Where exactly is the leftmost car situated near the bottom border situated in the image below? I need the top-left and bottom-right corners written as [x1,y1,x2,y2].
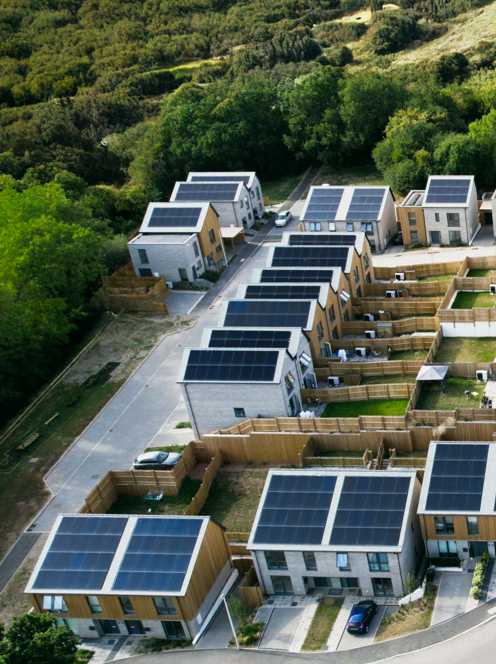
[342,593,381,637]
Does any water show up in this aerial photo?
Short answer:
No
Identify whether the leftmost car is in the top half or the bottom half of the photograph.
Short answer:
bottom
